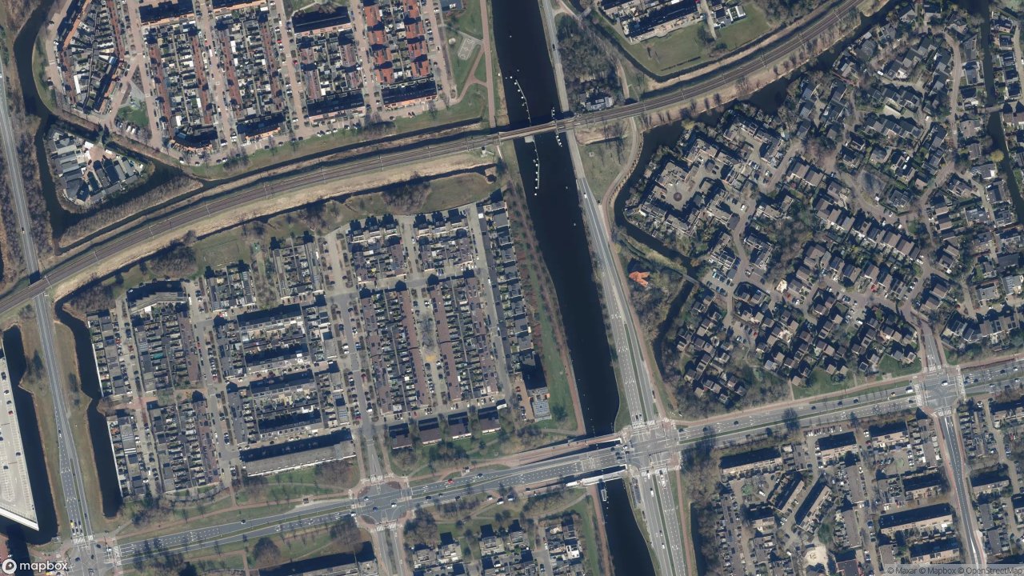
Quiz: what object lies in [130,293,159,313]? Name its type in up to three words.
building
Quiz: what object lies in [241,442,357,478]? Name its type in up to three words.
building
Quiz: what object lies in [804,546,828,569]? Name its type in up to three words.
playground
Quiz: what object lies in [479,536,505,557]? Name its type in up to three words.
house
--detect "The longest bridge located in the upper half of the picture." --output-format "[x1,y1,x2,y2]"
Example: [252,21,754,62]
[497,114,575,145]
